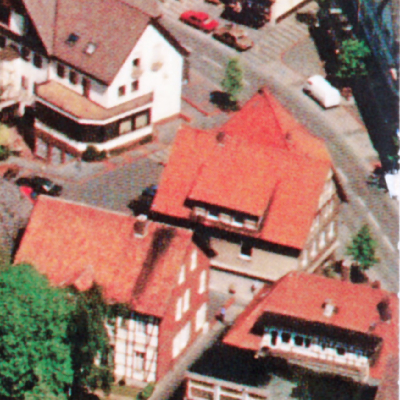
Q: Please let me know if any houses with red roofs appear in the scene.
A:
Yes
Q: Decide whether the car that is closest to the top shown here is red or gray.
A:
red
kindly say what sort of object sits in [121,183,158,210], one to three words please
car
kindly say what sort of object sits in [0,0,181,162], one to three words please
building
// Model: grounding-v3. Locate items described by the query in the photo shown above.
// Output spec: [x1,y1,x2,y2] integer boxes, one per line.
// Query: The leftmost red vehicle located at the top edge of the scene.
[179,5,223,32]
